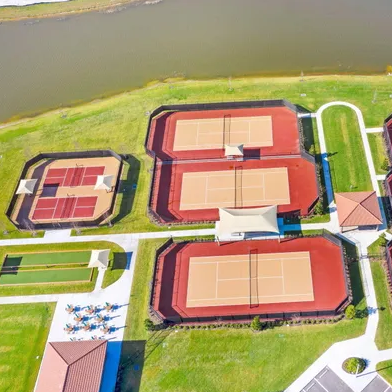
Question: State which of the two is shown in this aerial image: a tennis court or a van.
tennis court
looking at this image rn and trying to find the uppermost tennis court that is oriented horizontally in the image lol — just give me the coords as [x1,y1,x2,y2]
[148,106,301,162]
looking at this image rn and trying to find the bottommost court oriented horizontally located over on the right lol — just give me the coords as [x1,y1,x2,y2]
[154,236,348,326]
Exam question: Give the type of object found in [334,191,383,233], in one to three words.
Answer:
building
